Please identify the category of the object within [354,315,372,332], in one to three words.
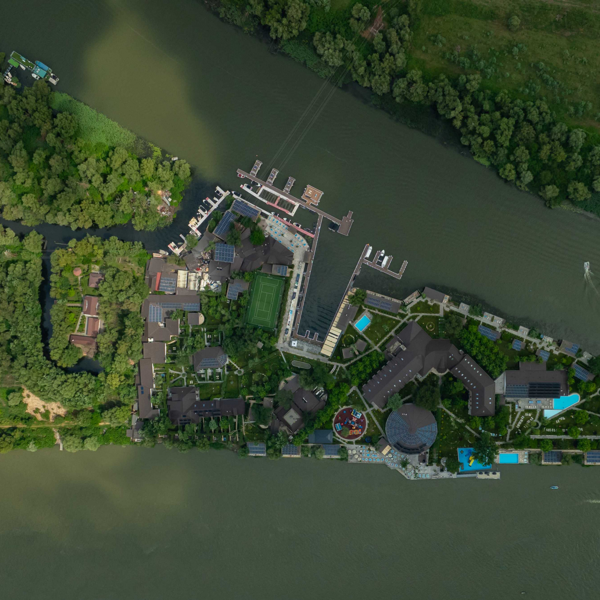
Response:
swimming pool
